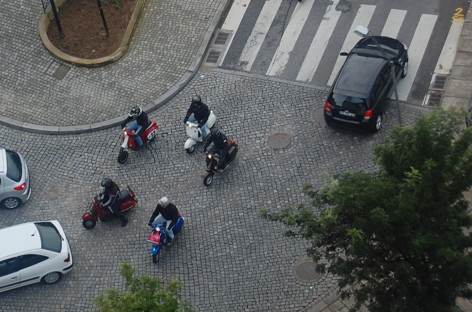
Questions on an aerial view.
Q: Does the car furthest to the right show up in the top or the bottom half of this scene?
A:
top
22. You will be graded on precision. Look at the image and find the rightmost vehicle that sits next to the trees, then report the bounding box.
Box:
[319,36,410,138]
